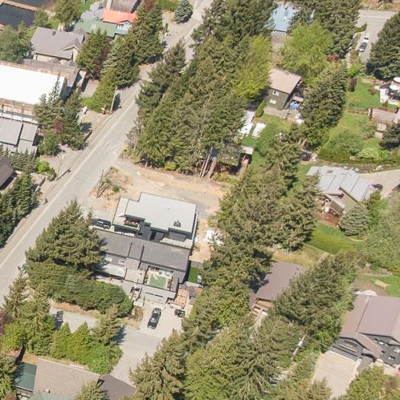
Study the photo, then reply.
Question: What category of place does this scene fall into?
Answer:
residential area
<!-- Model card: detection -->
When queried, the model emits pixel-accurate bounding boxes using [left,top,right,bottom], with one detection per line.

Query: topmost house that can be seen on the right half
[264,5,301,45]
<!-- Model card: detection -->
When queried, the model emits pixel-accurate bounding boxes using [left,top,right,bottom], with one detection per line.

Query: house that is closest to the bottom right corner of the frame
[326,294,400,371]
